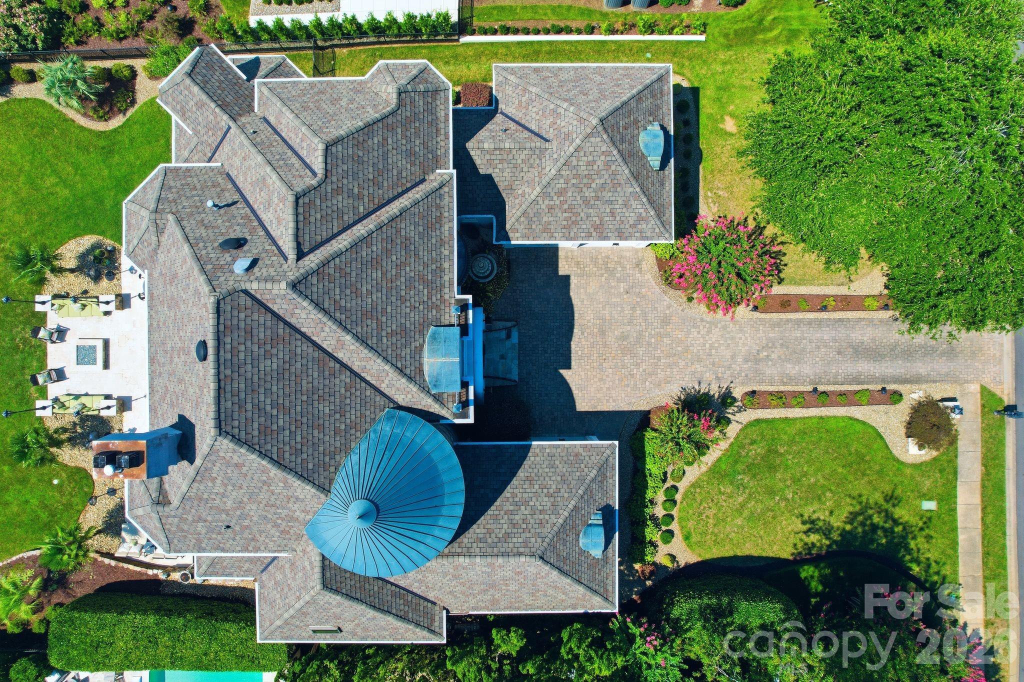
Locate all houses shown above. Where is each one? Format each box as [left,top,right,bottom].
[87,35,676,645]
